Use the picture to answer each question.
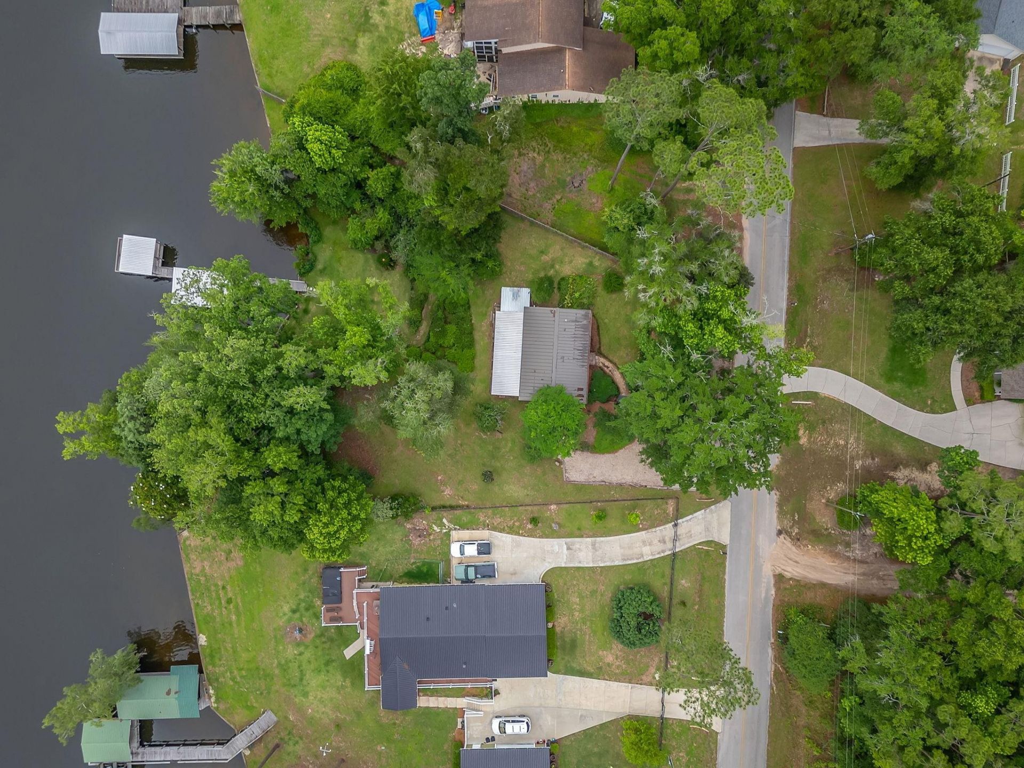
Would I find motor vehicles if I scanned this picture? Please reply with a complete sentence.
Yes, looking at the shot, I can spot a motor vehicle.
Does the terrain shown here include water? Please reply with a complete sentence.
Yes, water can be seen from above here.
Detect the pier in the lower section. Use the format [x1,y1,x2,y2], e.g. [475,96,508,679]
[85,671,280,768]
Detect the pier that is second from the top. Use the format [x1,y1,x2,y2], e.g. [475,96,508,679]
[115,237,174,279]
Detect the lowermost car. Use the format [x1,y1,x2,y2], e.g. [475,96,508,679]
[492,715,529,735]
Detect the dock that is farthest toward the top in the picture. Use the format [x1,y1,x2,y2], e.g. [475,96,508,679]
[113,0,243,61]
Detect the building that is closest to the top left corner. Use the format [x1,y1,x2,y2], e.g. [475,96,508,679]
[99,13,188,65]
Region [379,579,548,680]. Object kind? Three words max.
house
